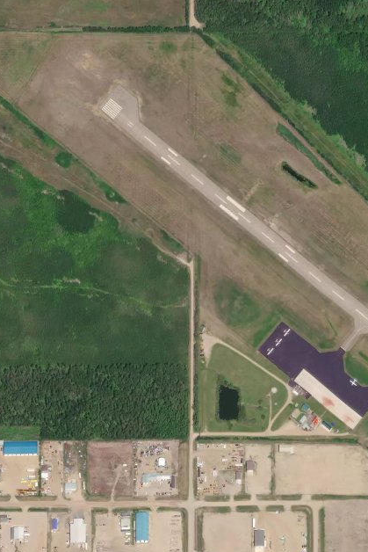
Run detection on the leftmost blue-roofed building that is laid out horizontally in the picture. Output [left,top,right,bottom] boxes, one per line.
[2,441,37,456]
